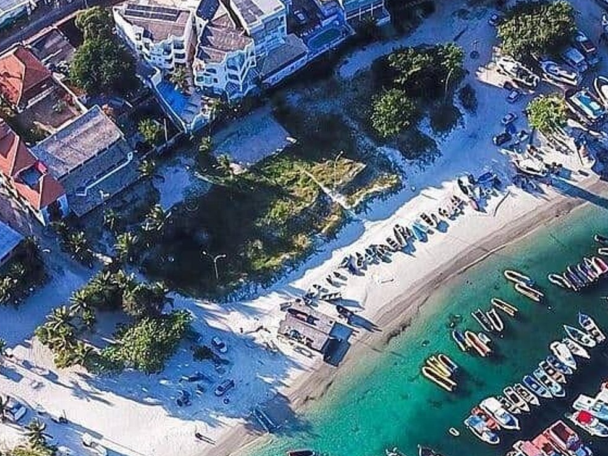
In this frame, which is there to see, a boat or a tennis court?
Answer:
boat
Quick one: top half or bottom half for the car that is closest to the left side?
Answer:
bottom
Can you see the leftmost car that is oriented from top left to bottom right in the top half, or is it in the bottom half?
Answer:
bottom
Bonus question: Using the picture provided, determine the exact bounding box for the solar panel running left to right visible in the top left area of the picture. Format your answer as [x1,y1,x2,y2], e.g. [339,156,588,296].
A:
[124,1,180,21]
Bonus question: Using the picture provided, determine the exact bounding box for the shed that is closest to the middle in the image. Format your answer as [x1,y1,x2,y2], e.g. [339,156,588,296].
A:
[279,305,335,356]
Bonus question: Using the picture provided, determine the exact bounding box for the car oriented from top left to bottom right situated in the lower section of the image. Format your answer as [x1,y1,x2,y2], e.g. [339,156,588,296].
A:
[209,335,229,355]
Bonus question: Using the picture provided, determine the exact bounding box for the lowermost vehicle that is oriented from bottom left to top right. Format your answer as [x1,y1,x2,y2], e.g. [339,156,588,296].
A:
[7,403,30,424]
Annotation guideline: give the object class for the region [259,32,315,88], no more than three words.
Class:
building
